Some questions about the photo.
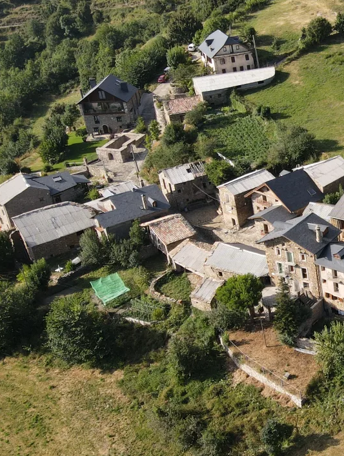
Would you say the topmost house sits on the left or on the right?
right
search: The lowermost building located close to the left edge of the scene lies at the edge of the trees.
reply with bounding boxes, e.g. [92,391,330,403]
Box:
[9,203,95,259]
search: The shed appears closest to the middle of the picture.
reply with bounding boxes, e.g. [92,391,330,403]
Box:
[143,213,197,266]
